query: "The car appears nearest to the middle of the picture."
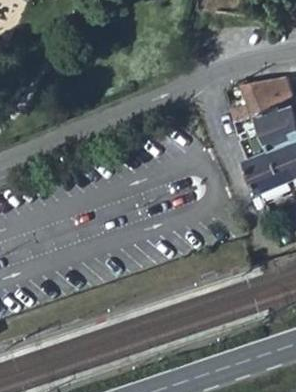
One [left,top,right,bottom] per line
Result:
[147,202,170,216]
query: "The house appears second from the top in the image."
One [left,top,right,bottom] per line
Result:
[253,106,296,154]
